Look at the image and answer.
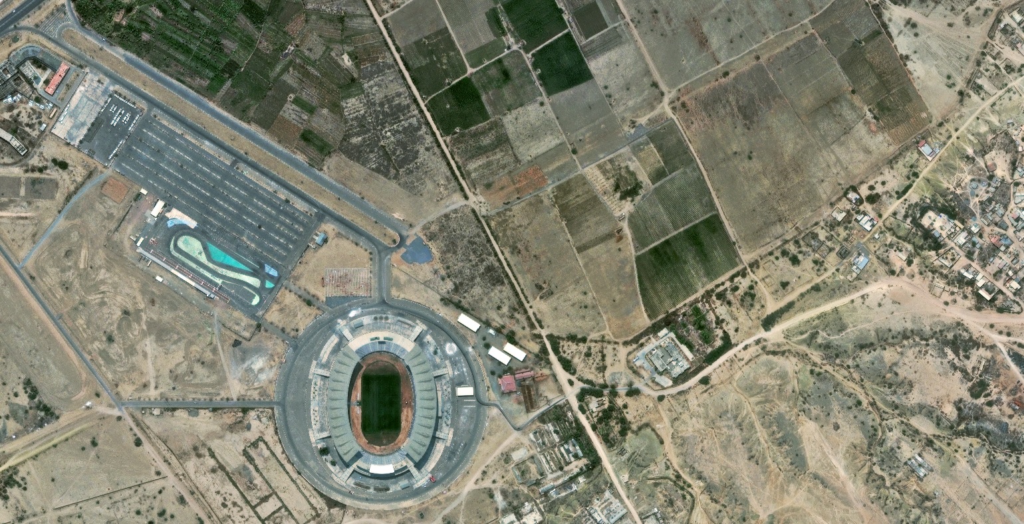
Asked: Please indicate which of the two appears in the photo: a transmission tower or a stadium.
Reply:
stadium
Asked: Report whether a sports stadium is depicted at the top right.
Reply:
No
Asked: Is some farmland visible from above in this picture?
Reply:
Yes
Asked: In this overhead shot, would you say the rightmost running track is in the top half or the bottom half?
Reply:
bottom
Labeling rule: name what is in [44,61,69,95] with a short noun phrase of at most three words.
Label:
building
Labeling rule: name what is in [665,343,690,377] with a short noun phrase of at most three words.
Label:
house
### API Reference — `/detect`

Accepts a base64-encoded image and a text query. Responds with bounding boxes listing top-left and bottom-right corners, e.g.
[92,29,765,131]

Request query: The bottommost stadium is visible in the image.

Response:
[325,330,436,474]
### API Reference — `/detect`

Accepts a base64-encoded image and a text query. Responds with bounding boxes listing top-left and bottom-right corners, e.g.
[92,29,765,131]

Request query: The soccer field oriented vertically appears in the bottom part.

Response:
[361,361,401,446]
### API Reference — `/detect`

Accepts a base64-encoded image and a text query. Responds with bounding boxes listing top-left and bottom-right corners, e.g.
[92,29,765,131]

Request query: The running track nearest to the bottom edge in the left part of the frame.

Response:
[349,351,413,455]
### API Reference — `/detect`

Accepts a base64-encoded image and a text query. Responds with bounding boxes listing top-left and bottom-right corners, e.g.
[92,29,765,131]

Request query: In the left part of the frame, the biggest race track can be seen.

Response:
[142,208,291,317]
